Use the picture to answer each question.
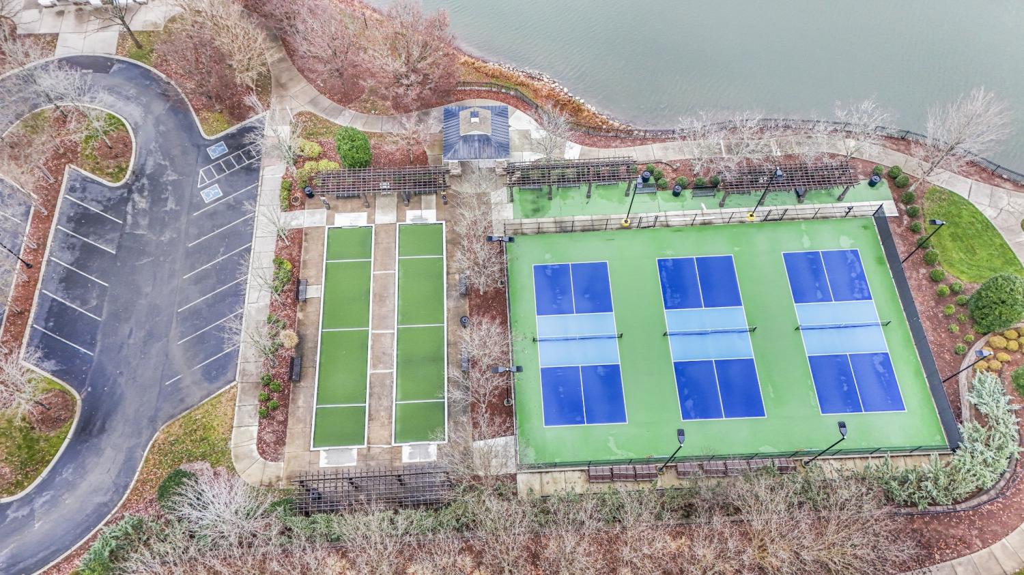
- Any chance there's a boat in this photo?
No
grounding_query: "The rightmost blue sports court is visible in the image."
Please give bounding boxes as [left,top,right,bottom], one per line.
[782,248,906,414]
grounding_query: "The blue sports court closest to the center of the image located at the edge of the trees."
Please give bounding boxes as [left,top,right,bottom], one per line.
[533,260,627,428]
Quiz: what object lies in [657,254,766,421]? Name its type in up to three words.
sports court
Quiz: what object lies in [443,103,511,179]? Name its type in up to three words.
building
